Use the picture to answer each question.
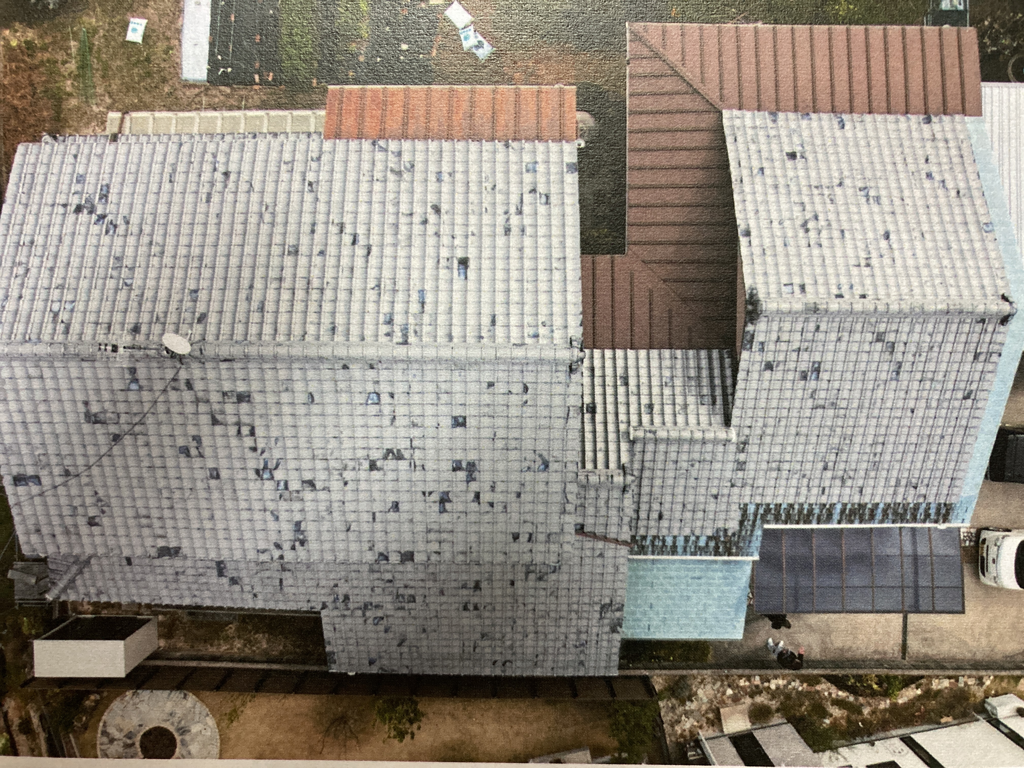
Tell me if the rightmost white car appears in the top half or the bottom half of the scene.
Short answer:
bottom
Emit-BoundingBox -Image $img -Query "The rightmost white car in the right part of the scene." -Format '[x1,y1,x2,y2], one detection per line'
[971,527,1024,588]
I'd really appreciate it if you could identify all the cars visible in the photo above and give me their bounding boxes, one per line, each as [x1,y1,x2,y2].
[971,527,1024,588]
[987,430,1024,482]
